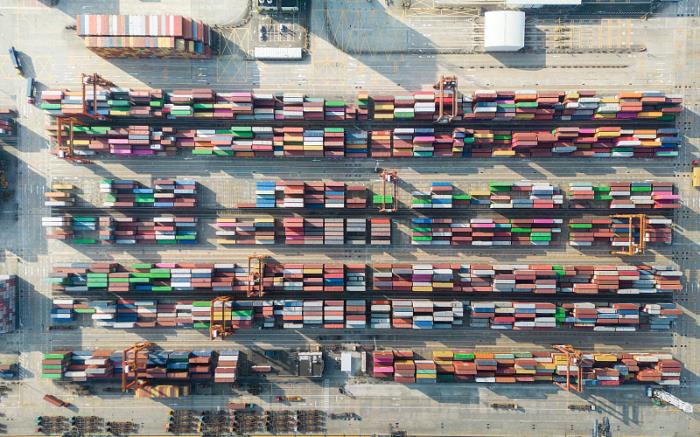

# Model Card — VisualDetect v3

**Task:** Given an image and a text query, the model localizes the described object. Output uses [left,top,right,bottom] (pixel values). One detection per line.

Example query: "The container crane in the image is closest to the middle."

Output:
[378,173,399,213]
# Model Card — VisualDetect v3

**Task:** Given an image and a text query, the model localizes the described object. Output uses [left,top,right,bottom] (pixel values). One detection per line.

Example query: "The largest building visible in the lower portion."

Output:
[298,351,323,375]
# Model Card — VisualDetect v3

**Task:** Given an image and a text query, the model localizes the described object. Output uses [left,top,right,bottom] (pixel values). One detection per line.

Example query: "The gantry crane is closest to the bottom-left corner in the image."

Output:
[122,340,155,392]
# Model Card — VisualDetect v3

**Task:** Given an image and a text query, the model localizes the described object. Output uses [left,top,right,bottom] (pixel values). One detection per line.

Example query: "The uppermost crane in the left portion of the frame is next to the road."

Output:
[81,73,117,123]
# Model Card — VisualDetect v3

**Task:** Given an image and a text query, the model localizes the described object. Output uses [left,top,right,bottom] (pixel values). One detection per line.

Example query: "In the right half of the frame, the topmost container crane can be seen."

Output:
[431,76,456,126]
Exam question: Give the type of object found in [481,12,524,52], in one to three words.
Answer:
building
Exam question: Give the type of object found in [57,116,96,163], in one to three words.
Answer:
container crane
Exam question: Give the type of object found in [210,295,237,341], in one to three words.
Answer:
container crane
